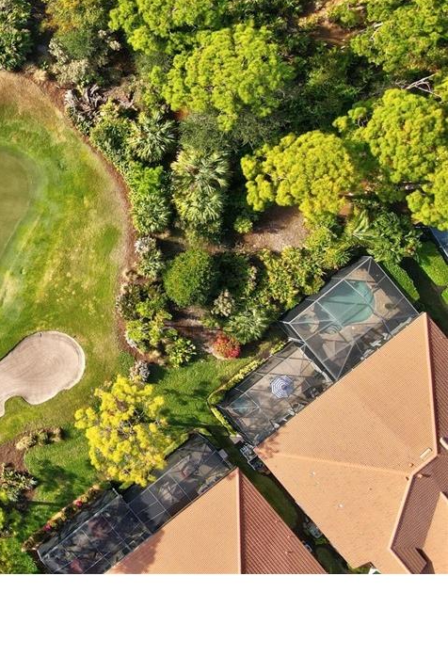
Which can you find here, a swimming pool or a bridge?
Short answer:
swimming pool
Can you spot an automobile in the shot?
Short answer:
No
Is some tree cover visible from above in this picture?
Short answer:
Yes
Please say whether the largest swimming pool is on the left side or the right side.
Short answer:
right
